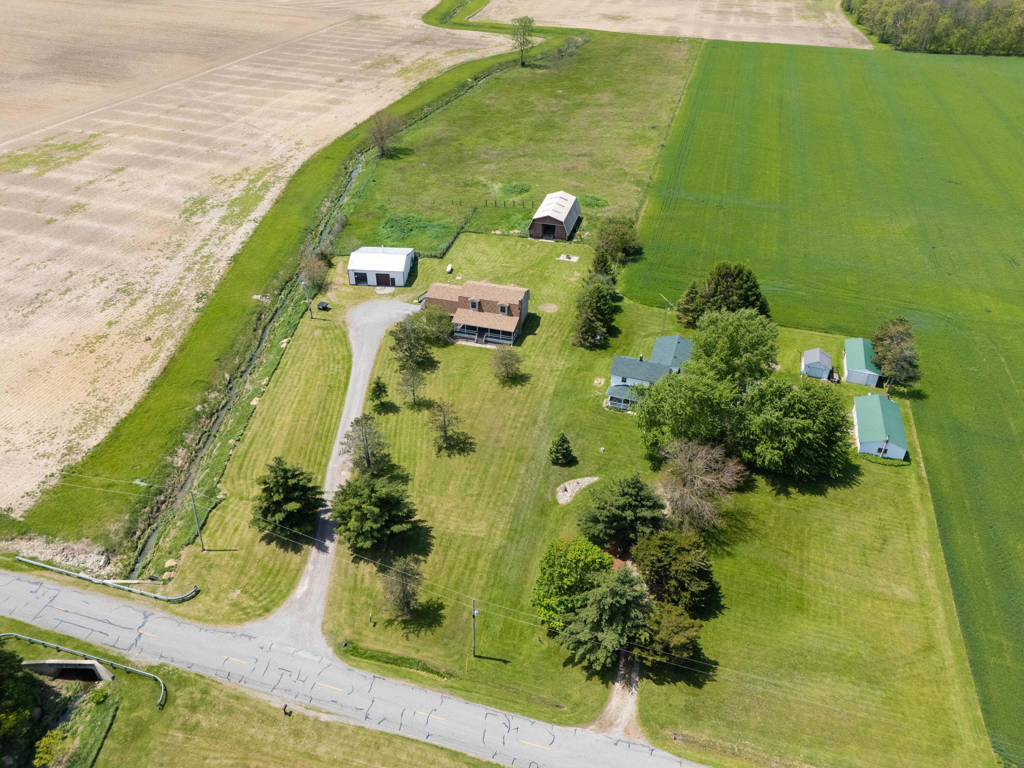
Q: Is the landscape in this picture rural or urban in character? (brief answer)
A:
rural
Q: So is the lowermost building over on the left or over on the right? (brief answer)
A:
right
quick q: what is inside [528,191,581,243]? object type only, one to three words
barn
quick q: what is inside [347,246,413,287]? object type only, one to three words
barn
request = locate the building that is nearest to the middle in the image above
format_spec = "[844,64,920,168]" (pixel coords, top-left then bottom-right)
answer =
[418,276,529,344]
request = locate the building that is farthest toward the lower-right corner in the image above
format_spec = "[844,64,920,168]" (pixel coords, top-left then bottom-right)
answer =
[854,395,909,459]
